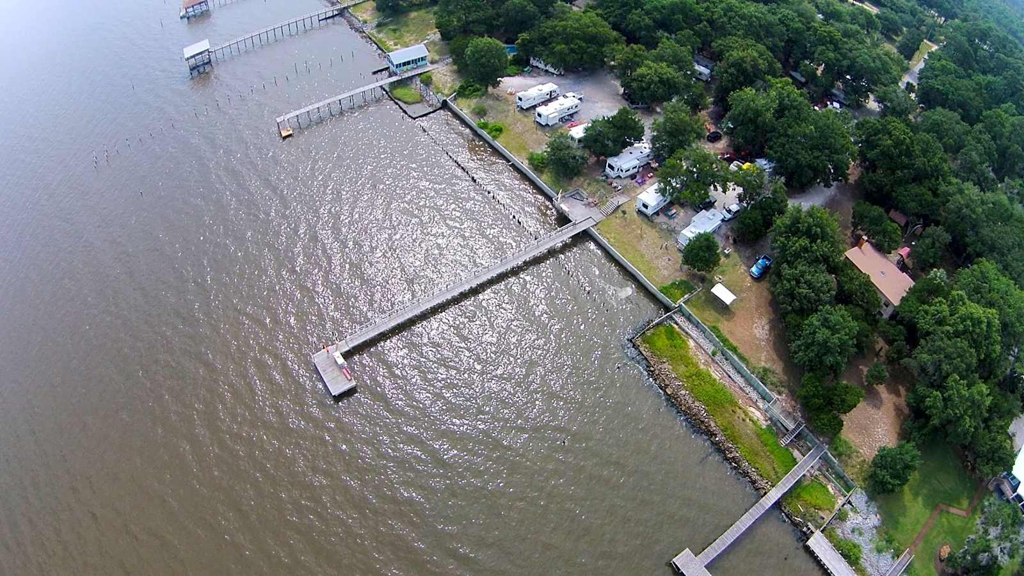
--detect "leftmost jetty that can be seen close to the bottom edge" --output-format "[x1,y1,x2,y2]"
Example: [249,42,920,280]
[668,443,827,576]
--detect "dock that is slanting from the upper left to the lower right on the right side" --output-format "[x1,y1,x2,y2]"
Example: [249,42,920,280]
[798,531,863,576]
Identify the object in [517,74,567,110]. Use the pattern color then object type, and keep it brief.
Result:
white vehicle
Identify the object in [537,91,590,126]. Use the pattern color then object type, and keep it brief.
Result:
white vehicle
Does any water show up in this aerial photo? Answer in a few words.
Yes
